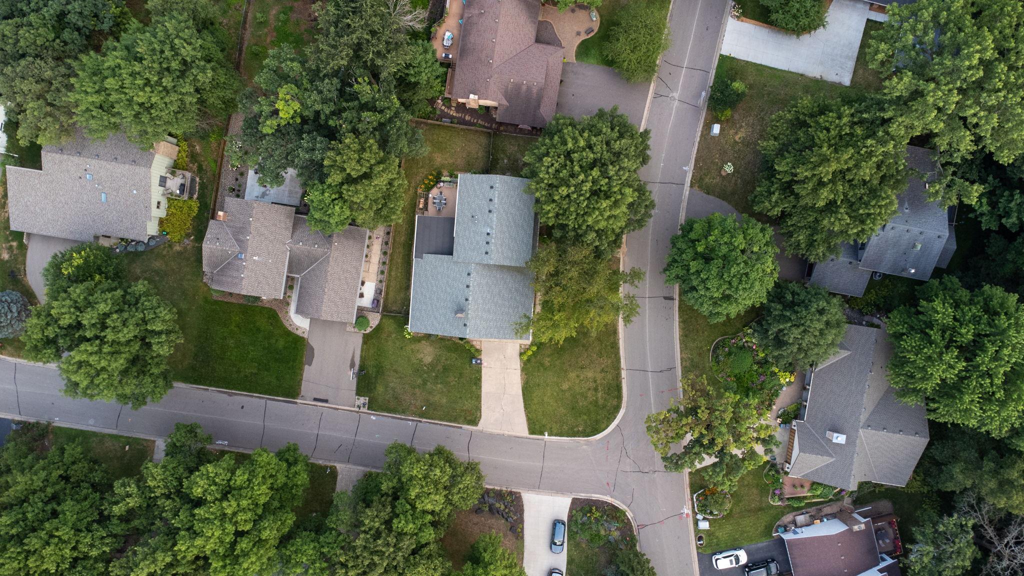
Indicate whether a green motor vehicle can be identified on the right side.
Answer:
No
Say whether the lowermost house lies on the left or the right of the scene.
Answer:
right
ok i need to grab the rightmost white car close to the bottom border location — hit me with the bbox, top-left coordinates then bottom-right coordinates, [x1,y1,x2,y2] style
[711,548,747,569]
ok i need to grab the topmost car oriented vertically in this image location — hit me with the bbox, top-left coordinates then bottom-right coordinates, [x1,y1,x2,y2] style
[549,518,567,554]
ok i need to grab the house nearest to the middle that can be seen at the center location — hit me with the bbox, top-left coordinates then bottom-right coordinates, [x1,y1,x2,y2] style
[406,174,536,344]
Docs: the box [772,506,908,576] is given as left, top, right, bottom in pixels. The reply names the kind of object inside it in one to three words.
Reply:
house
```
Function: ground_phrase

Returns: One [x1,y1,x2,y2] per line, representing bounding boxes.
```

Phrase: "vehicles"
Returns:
[738,559,779,576]
[711,548,747,569]
[549,518,567,554]
[549,565,564,576]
